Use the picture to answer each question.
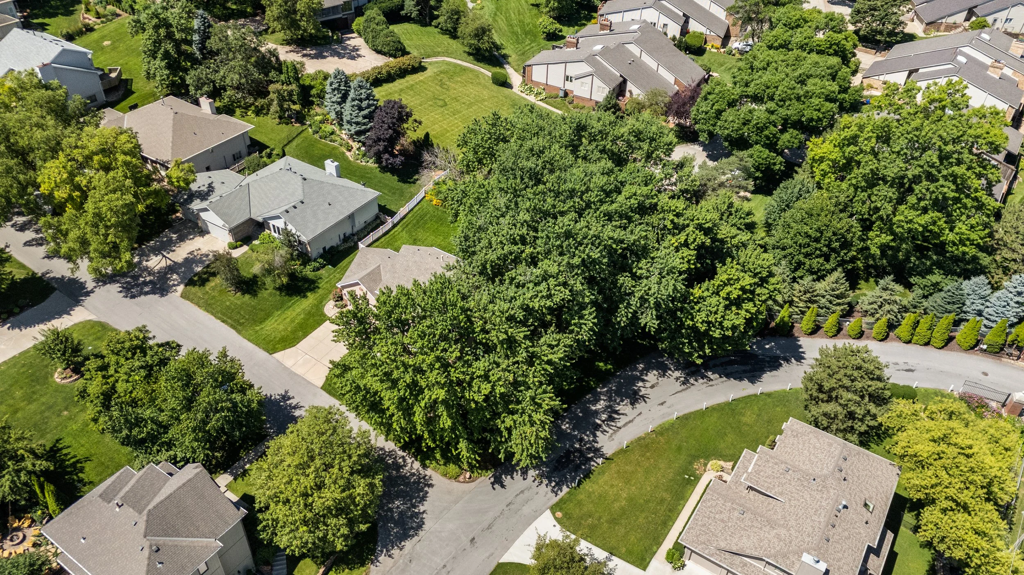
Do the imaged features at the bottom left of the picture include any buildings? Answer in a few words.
Yes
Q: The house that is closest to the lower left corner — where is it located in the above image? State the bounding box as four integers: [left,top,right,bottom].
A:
[39,461,254,575]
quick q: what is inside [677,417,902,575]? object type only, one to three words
house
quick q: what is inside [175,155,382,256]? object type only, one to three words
house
